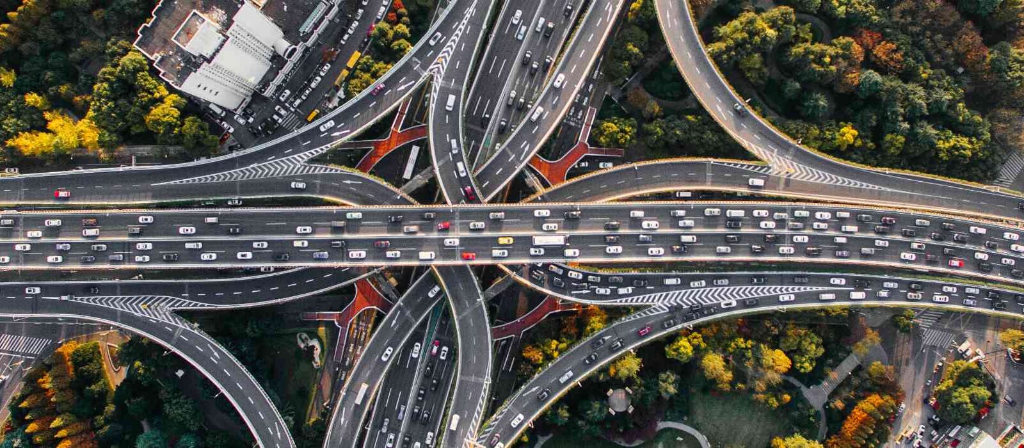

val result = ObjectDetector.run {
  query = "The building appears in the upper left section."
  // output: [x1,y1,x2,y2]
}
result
[130,0,345,113]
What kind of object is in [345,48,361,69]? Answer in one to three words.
vehicle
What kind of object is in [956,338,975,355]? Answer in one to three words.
vehicle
